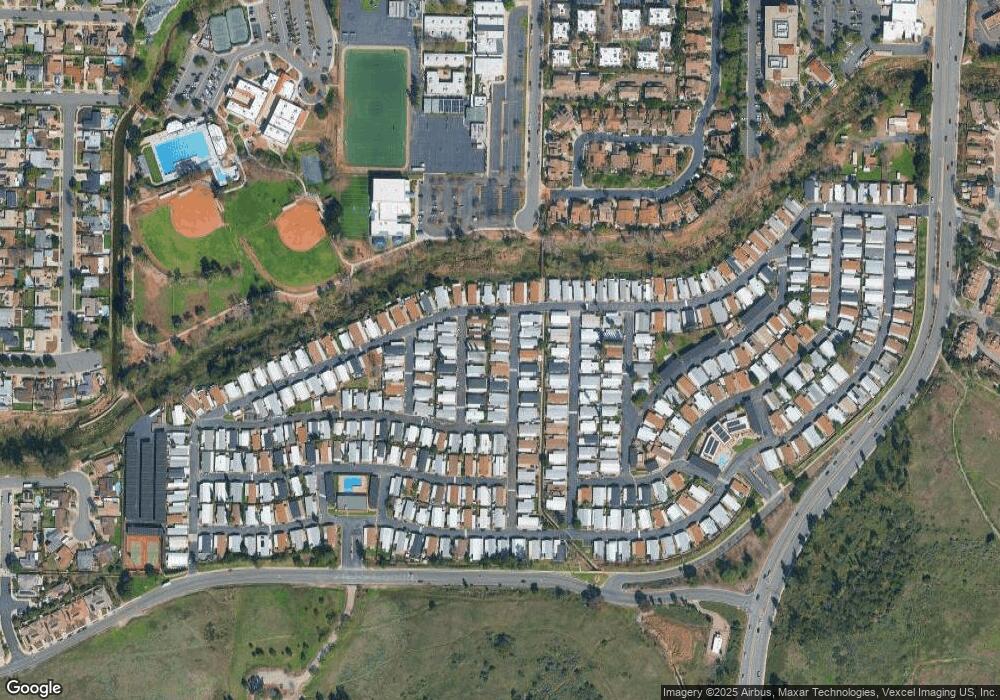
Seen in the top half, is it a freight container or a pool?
pool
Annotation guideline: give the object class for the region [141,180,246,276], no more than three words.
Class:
baseball field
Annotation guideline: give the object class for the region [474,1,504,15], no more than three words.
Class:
building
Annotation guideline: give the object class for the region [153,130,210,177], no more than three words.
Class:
swimming pool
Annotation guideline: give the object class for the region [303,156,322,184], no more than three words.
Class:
basketball court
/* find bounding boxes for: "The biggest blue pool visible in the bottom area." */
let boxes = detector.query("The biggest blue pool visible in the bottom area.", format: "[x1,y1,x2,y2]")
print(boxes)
[344,476,362,492]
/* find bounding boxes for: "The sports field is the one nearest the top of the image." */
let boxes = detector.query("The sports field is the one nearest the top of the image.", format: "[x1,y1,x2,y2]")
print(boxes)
[341,47,410,170]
